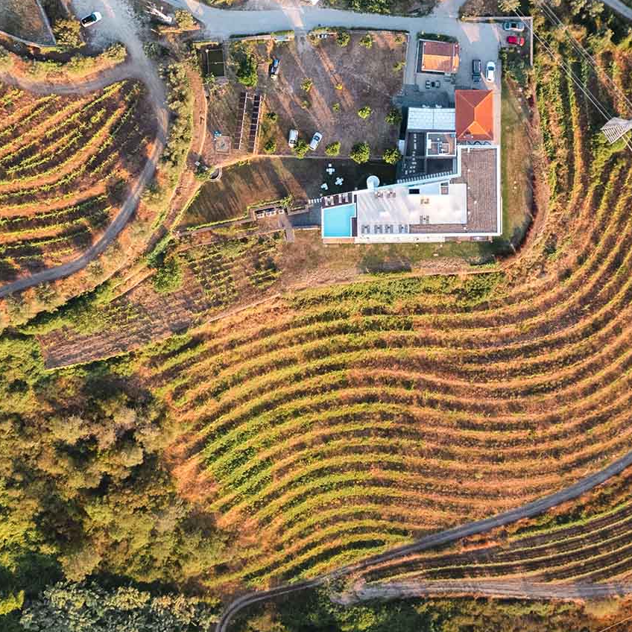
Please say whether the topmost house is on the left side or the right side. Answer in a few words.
right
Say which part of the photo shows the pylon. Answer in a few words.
top right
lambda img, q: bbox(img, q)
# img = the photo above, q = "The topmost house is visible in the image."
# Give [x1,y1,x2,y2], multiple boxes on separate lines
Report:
[422,41,460,74]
